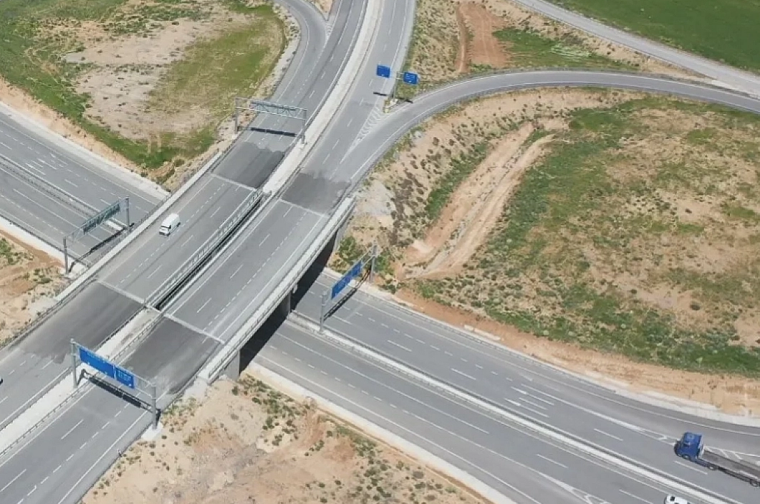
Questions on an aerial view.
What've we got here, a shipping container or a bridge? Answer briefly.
bridge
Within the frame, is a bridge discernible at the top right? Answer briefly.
No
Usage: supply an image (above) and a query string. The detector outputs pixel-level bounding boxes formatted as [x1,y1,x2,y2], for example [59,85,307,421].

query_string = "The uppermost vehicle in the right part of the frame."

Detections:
[678,435,760,486]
